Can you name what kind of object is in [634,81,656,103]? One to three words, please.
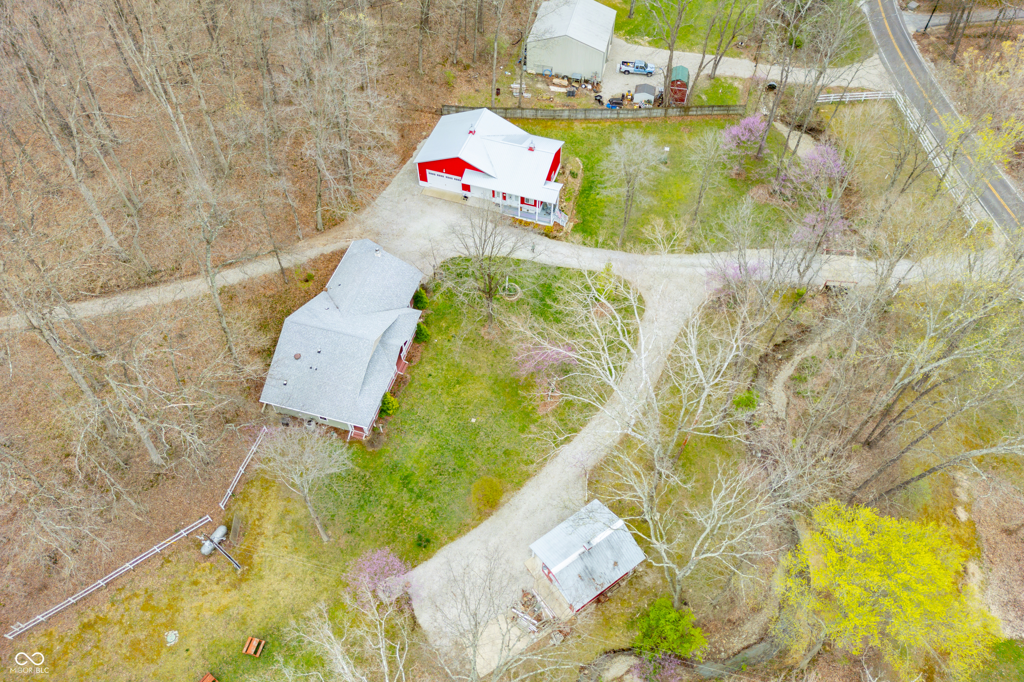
shed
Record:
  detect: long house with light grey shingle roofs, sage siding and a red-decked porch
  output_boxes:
[258,240,424,449]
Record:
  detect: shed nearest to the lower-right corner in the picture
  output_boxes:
[526,499,647,614]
